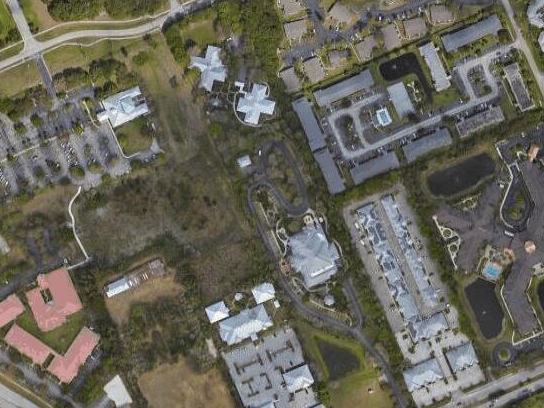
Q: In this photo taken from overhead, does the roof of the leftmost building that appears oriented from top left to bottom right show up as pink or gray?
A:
pink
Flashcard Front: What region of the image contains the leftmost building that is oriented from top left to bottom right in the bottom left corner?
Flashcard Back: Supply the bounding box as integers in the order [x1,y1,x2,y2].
[6,327,50,363]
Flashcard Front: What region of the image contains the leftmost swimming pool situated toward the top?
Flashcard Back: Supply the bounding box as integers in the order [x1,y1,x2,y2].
[377,108,391,126]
